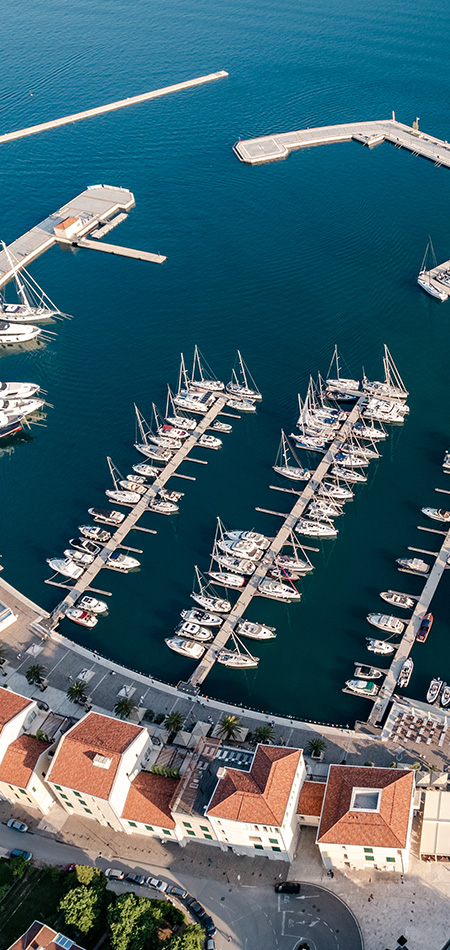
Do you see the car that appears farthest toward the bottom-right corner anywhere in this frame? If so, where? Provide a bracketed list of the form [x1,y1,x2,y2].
[275,881,302,894]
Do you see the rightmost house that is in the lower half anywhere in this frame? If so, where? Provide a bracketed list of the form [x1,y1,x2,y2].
[315,764,416,869]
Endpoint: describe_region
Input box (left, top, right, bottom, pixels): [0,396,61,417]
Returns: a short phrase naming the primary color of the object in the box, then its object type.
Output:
white boat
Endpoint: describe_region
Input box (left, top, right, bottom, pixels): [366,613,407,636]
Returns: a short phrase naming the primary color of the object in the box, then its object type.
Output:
white boat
